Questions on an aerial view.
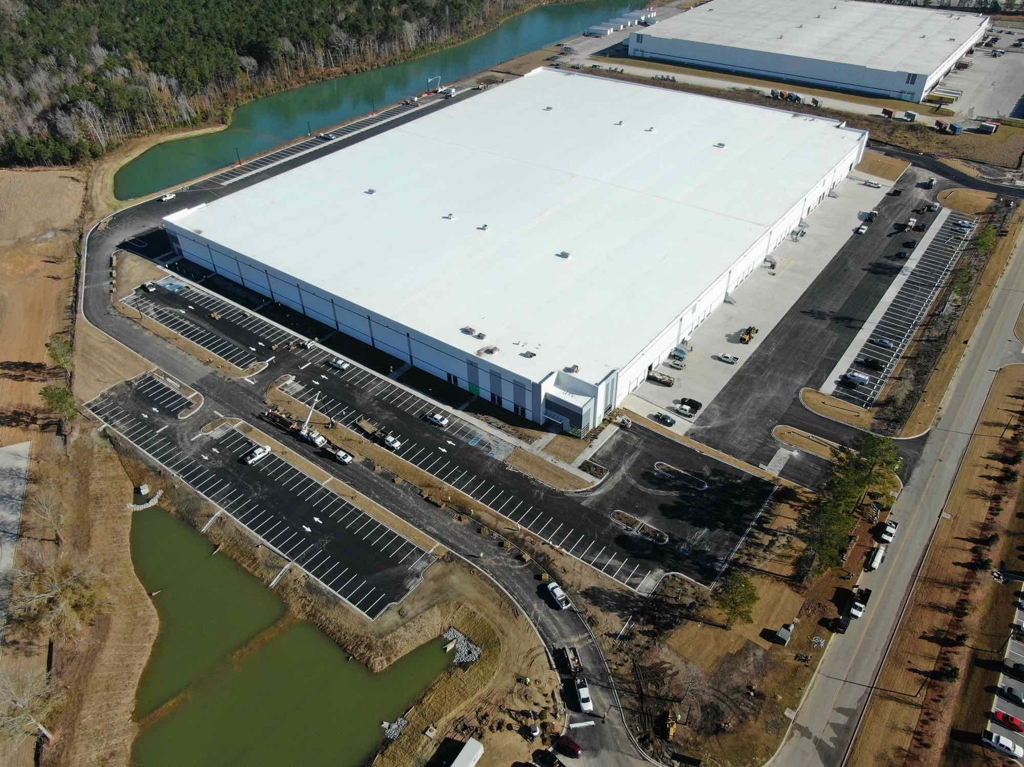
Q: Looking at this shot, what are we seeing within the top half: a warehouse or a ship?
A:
warehouse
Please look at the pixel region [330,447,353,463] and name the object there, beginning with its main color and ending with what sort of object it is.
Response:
white vehicle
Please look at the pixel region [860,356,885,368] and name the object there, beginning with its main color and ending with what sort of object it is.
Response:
black vehicle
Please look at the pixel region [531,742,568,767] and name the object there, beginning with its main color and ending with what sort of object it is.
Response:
black truck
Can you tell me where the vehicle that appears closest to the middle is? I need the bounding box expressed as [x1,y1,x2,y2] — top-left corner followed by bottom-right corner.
[425,410,449,424]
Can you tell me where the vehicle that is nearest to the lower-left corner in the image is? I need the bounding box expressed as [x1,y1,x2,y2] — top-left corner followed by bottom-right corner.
[244,444,270,462]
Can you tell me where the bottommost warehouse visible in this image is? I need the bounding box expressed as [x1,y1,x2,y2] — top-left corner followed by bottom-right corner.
[161,67,871,438]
